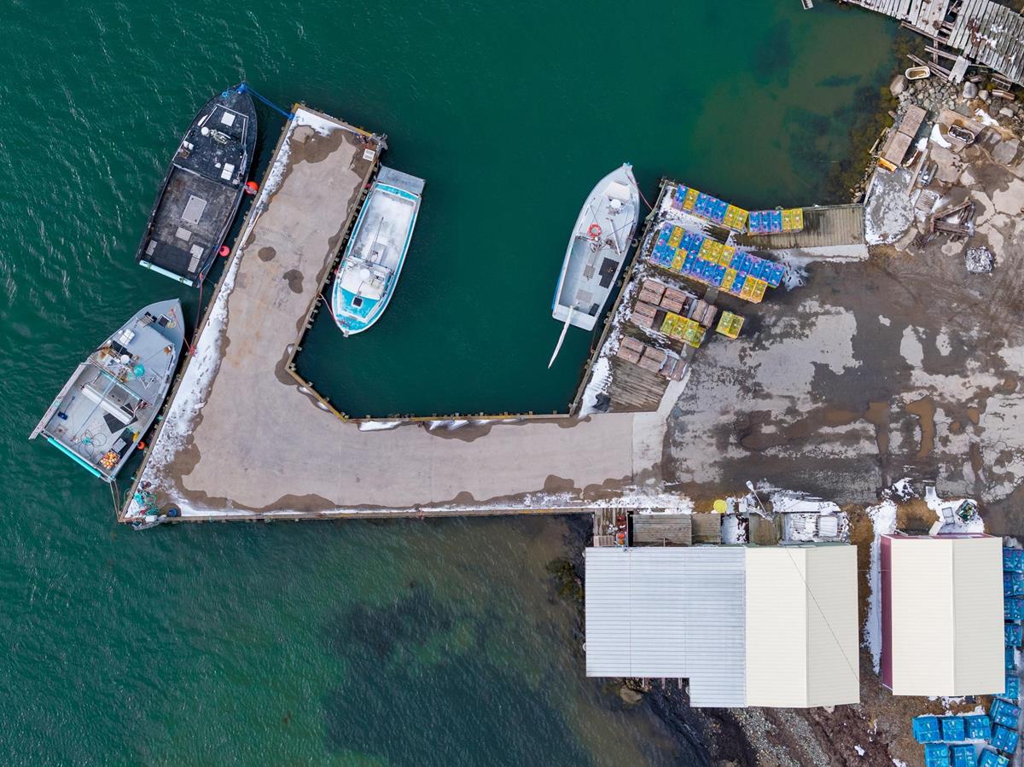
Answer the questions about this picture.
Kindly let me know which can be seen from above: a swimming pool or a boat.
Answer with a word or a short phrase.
boat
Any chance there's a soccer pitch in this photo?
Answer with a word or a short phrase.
No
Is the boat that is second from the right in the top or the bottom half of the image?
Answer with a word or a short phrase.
top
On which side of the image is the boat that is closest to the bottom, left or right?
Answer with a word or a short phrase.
left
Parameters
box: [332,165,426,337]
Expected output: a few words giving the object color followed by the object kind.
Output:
white boat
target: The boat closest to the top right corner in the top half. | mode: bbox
[548,162,641,368]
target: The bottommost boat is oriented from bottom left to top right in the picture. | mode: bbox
[28,298,185,484]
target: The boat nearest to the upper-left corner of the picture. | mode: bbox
[138,82,256,287]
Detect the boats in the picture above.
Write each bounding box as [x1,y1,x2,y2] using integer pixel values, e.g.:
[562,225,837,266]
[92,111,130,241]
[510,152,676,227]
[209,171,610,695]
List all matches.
[332,165,426,337]
[28,298,185,484]
[548,162,641,368]
[138,82,256,287]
